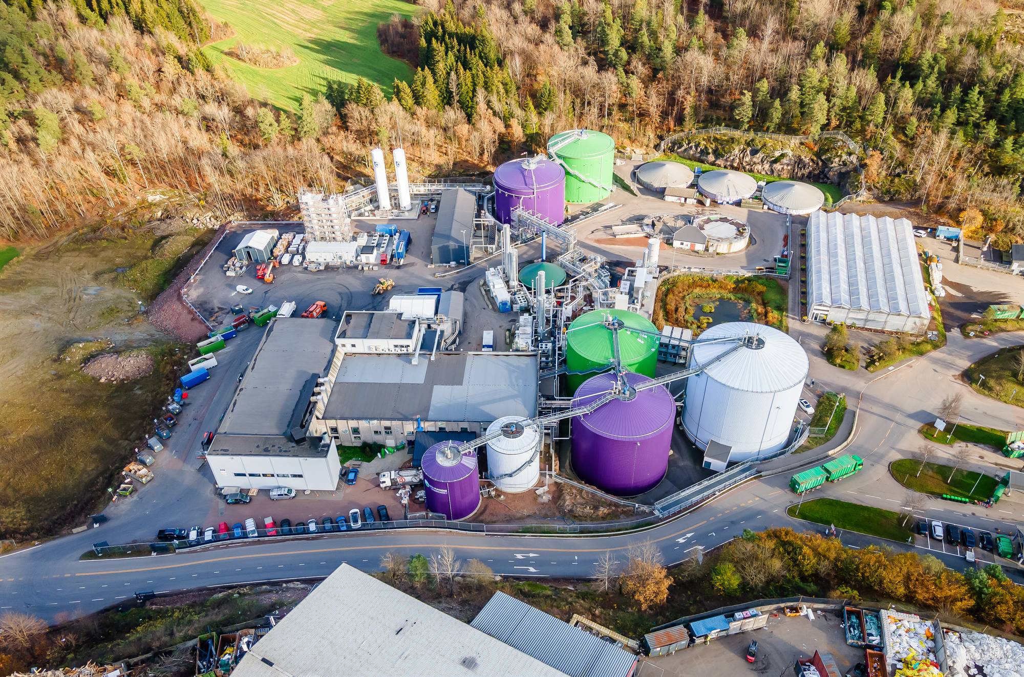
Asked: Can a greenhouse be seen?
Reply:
Yes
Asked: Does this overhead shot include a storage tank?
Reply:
Yes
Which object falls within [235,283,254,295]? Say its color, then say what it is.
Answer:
white vehicle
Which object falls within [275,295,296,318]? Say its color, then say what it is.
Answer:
white truck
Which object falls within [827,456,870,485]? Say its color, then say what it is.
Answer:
green truck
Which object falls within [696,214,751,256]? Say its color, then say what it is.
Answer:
white storage tank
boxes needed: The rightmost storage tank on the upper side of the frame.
[763,184,826,222]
